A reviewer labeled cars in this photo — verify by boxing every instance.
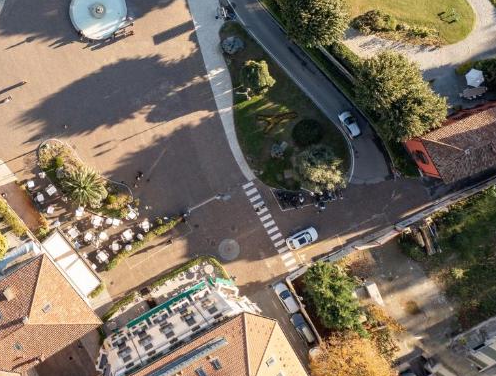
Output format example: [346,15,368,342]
[283,225,320,251]
[288,312,318,348]
[334,107,363,142]
[271,280,298,315]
